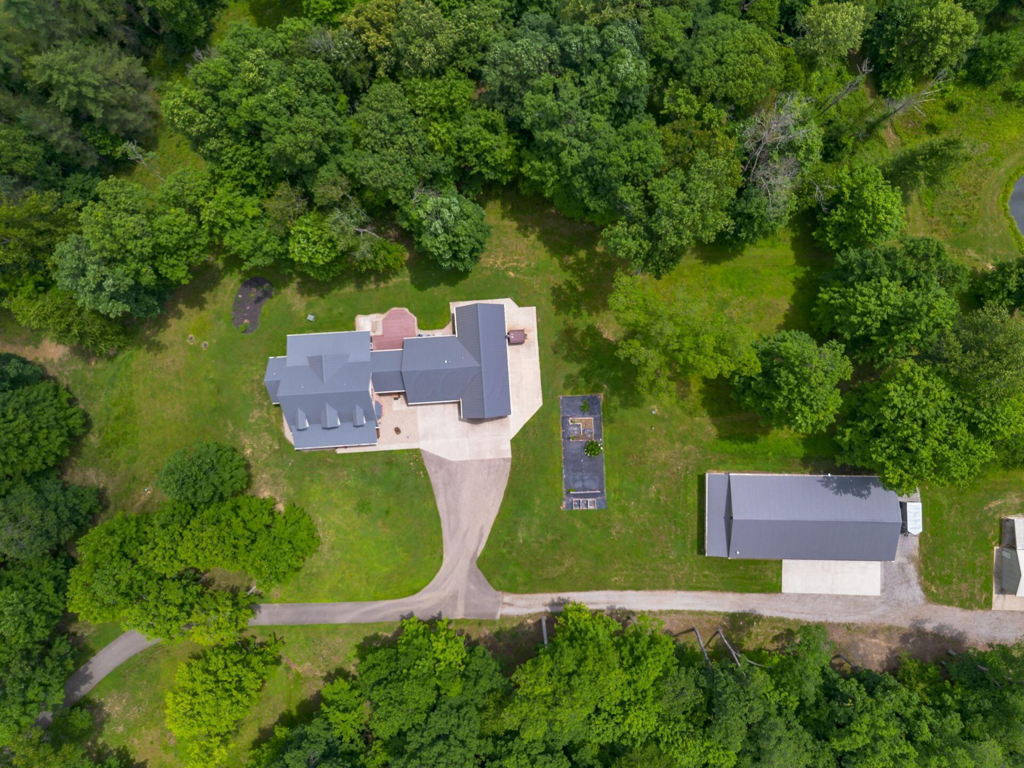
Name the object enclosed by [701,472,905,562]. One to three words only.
barn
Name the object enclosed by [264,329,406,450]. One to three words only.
house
